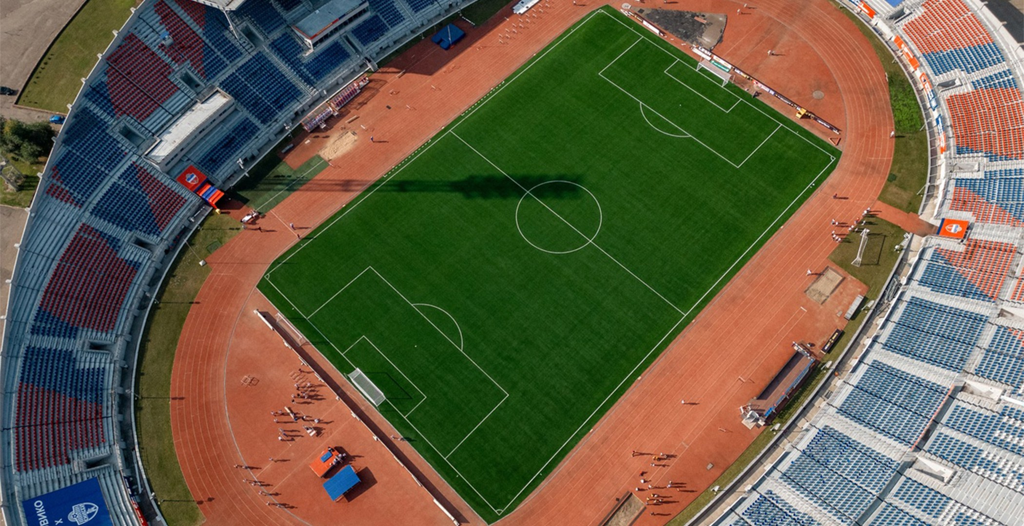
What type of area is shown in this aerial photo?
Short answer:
sports ground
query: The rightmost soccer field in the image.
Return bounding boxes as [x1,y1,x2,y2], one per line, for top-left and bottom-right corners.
[256,4,840,523]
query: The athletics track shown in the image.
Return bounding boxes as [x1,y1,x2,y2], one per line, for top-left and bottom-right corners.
[170,0,893,526]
